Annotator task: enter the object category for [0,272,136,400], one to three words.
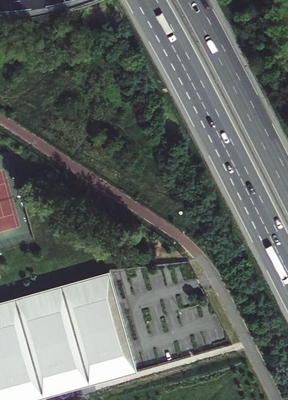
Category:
building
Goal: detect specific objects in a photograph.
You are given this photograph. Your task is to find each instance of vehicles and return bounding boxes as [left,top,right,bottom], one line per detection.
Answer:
[206,116,215,129]
[191,2,200,14]
[158,13,178,44]
[272,234,280,246]
[274,218,283,230]
[220,132,230,144]
[225,162,234,175]
[200,0,210,10]
[246,182,254,195]
[165,350,171,362]
[266,245,288,285]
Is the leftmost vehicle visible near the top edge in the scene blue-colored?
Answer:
No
